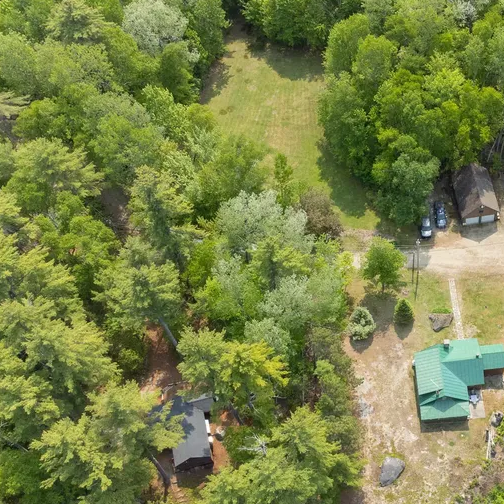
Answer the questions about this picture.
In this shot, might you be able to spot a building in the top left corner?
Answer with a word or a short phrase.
No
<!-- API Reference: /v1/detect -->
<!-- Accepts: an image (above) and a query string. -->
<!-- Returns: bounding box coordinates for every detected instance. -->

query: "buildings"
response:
[414,338,504,423]
[145,390,222,471]
[450,165,500,227]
